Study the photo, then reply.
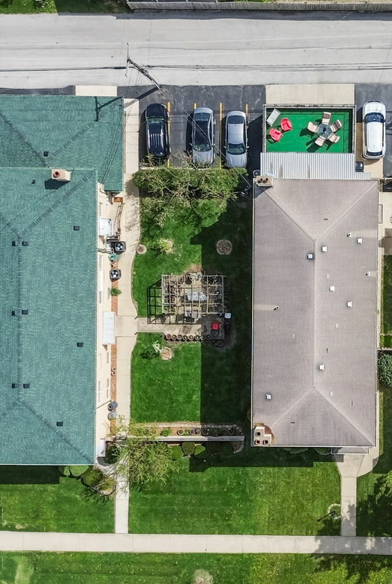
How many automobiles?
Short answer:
4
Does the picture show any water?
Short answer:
No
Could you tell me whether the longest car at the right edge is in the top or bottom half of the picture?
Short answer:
top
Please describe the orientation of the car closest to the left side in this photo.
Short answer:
up and down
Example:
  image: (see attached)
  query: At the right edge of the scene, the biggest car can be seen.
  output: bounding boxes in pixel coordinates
[360,103,388,160]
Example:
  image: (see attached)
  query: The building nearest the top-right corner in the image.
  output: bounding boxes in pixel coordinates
[262,101,356,173]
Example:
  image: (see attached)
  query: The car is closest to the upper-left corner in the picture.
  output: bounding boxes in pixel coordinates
[143,105,173,165]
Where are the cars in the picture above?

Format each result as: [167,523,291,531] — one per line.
[360,103,388,160]
[143,105,173,165]
[222,112,249,171]
[190,108,216,165]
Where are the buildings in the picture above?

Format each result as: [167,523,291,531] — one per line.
[0,167,116,467]
[250,177,384,454]
[262,101,356,173]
